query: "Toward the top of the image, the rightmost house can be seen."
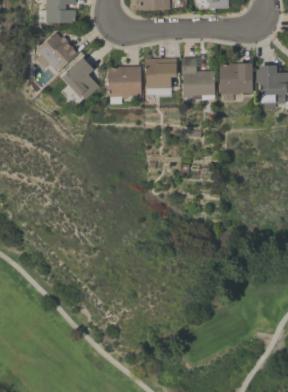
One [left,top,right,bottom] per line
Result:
[256,66,288,108]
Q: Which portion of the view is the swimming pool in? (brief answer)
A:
top left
